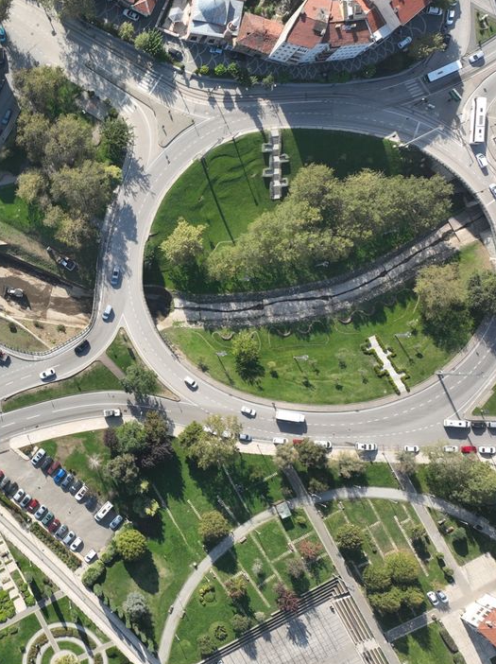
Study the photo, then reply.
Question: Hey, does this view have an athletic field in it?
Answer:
No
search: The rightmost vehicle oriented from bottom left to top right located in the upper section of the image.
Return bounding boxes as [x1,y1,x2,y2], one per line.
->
[468,52,484,65]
